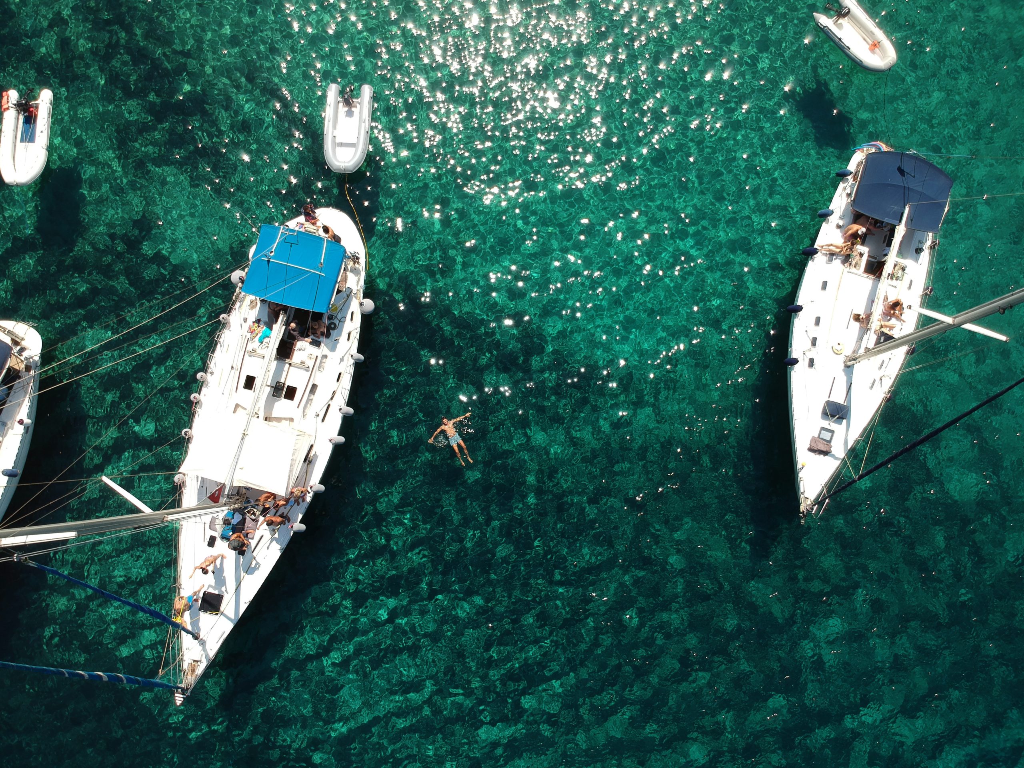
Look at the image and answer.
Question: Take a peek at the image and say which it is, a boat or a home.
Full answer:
This aerial view contains a boat.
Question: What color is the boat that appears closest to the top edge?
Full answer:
The boat that appears closest to the top edge looks white in the image.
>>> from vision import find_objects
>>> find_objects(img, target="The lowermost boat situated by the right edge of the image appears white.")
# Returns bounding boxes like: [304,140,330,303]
[785,145,1024,525]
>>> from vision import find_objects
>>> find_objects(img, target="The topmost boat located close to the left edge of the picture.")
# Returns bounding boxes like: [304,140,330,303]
[0,85,55,183]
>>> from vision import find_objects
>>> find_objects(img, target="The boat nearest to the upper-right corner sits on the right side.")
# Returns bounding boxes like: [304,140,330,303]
[807,0,897,72]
